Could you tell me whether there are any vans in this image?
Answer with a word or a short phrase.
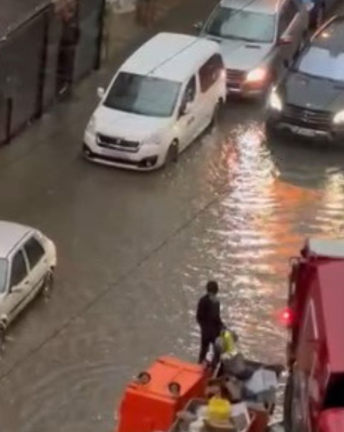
Yes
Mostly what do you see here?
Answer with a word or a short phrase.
water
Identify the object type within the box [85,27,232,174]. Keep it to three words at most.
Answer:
van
